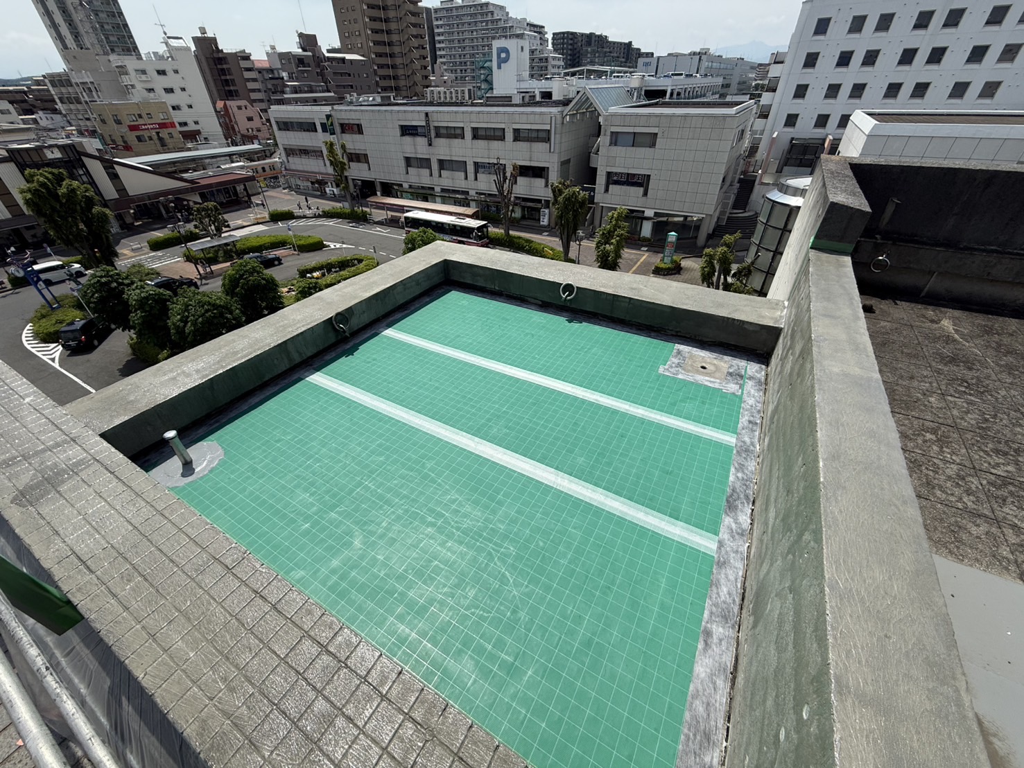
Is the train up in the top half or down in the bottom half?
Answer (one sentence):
The train is in the top half of the image.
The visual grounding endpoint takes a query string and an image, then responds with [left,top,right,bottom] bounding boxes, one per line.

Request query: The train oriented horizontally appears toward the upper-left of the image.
[237,158,287,178]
